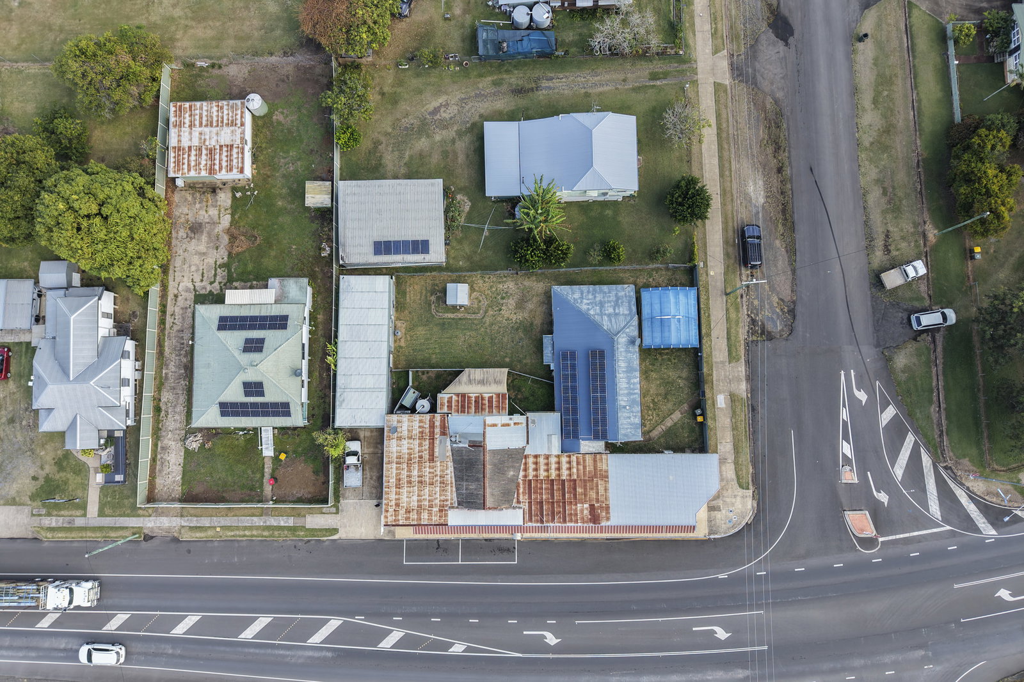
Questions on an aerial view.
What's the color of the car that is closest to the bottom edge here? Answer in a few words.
white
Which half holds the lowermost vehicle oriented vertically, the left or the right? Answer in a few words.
left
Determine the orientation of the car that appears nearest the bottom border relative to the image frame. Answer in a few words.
horizontally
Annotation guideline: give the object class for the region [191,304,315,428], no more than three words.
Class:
house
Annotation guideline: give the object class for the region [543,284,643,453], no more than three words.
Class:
house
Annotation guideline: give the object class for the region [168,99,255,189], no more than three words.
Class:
shed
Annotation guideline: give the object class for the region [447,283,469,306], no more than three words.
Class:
shed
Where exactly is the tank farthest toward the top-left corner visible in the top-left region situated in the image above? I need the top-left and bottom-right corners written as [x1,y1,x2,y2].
[242,88,269,115]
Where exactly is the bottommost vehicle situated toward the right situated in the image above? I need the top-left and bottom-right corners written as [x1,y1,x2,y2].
[911,306,957,331]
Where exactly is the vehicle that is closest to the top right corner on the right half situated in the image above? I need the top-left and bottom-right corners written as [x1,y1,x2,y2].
[877,259,929,291]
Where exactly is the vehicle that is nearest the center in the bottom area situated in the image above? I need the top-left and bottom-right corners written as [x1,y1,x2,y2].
[340,441,362,491]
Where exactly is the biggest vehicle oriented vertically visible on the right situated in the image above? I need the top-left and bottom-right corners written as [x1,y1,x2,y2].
[745,220,769,270]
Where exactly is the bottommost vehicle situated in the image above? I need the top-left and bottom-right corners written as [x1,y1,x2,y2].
[78,644,125,667]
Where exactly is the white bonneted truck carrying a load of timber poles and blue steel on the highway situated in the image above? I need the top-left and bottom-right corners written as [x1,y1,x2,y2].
[0,582,101,616]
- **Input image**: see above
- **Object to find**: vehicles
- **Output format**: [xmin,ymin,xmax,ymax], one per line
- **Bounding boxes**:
[745,220,769,270]
[78,644,125,667]
[0,344,10,382]
[397,0,416,17]
[0,582,101,616]
[911,306,957,331]
[340,441,362,491]
[877,259,929,291]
